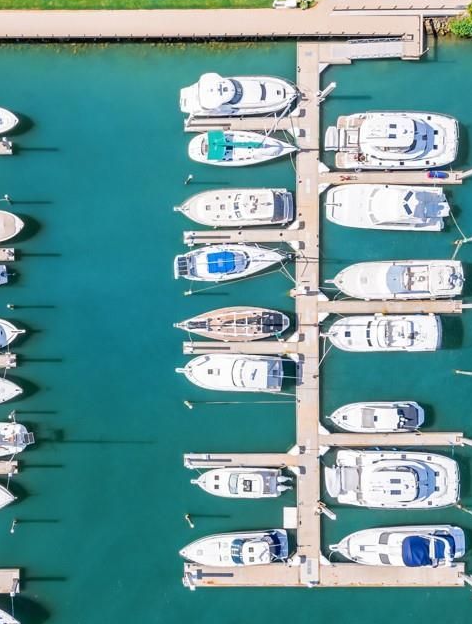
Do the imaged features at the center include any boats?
Yes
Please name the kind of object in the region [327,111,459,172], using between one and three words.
boat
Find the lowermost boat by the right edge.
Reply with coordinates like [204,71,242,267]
[328,523,464,565]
